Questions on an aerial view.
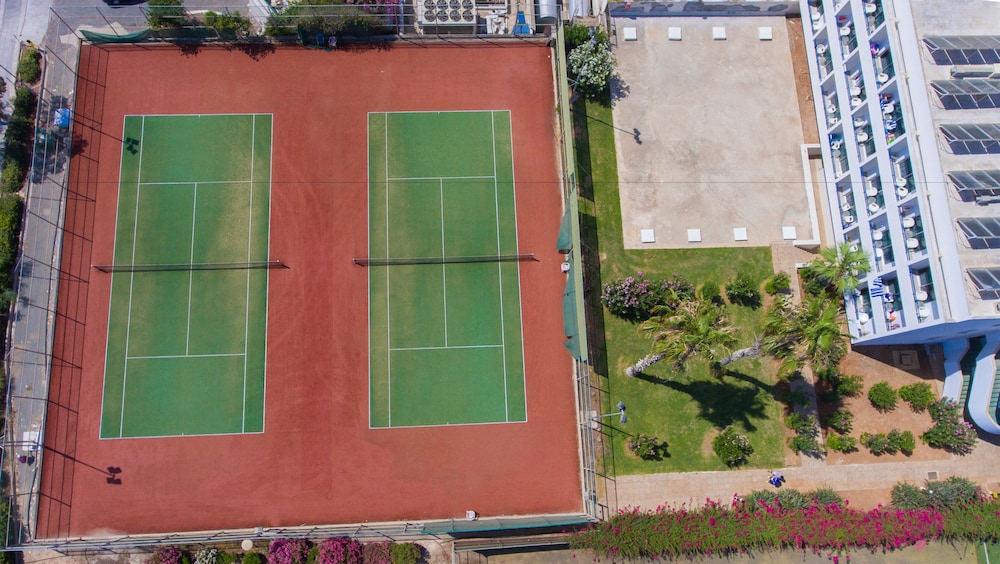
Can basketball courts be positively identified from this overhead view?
No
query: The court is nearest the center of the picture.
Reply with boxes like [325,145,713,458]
[354,110,532,428]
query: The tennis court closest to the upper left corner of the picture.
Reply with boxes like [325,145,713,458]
[91,114,282,438]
